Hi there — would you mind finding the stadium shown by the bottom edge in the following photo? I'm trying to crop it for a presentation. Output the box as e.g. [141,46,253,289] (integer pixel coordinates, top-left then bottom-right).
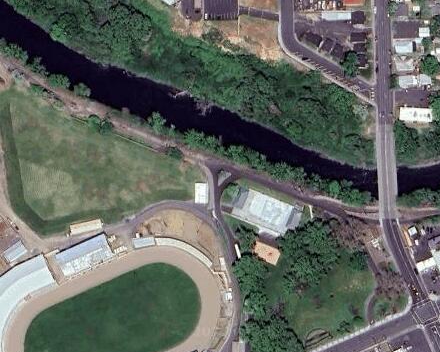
[0,237,220,352]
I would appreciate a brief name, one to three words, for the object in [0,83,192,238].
sports field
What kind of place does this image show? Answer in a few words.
sports ground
